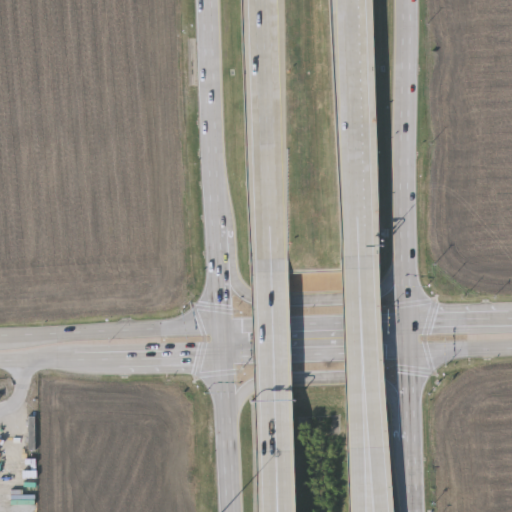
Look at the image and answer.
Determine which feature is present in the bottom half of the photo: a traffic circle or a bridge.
bridge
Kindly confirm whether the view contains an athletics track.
No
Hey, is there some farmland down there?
Yes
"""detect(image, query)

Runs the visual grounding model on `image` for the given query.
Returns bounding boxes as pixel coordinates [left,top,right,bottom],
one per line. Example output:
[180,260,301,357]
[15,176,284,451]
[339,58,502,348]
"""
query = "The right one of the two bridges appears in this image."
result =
[342,260,394,512]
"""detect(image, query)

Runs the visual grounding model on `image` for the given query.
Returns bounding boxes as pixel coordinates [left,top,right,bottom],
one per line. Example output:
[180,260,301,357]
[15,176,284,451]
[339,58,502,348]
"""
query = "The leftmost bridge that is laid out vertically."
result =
[251,260,296,512]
